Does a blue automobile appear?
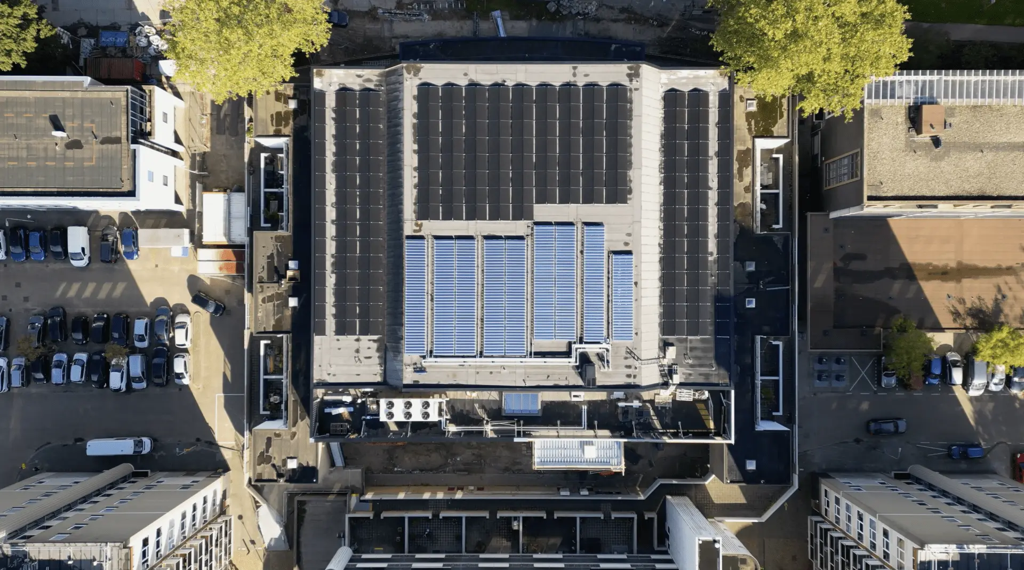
Yes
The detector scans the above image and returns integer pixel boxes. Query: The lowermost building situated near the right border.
[805,461,1024,570]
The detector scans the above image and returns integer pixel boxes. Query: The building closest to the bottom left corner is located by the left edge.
[0,461,237,570]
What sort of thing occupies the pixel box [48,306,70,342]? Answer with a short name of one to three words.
car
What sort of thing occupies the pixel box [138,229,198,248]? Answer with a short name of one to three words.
trailer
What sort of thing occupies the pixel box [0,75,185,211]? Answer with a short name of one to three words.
building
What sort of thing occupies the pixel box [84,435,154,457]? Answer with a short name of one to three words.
vehicle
